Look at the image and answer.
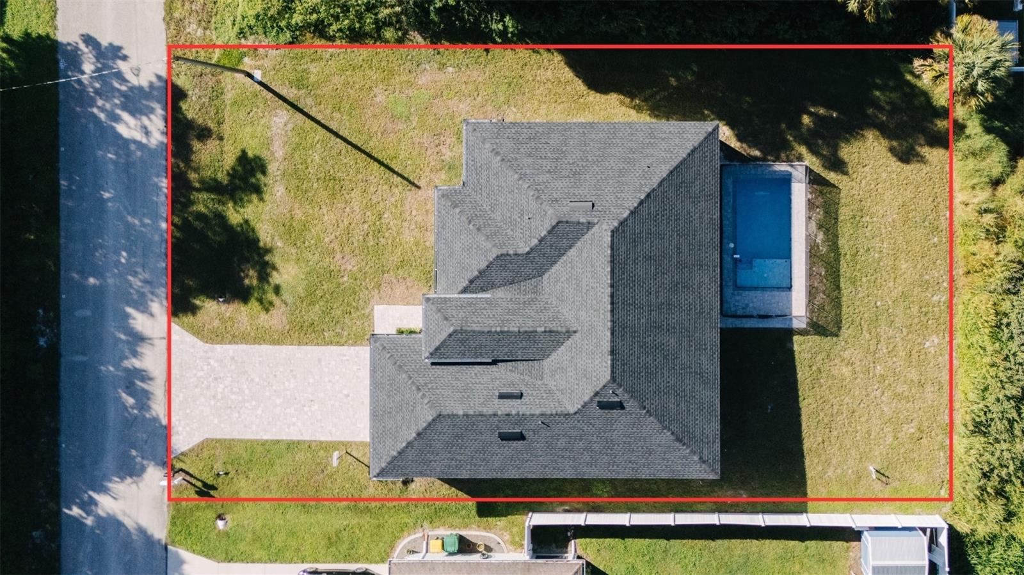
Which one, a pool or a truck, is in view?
pool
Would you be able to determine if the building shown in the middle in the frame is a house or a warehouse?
house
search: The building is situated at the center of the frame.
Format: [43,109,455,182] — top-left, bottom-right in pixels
[368,118,721,481]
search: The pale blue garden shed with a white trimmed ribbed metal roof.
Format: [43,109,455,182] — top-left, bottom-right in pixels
[860,528,928,575]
